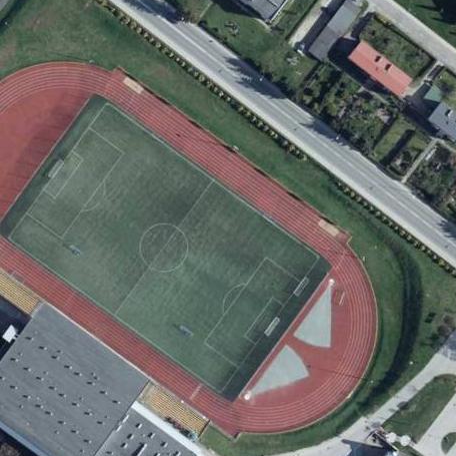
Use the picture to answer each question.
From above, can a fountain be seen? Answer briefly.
No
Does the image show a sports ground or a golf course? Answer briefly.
sports ground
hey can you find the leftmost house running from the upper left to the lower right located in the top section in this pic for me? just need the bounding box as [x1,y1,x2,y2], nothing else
[348,40,412,97]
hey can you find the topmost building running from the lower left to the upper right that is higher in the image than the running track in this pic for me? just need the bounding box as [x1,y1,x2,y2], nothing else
[307,0,363,61]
